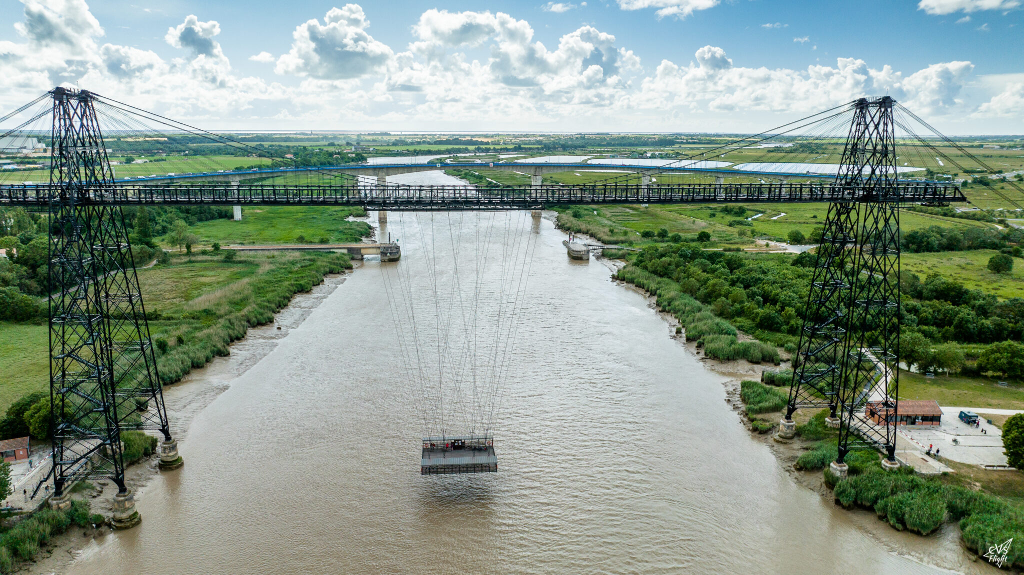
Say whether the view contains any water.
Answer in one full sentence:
Yes, the picture does contain water.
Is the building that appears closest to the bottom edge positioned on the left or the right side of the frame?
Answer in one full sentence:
The building that appears closest to the bottom edge appears in the left half of the scene.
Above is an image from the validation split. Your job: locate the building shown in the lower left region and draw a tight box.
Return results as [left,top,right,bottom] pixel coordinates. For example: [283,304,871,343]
[0,433,34,462]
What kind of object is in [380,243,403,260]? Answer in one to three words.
pier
